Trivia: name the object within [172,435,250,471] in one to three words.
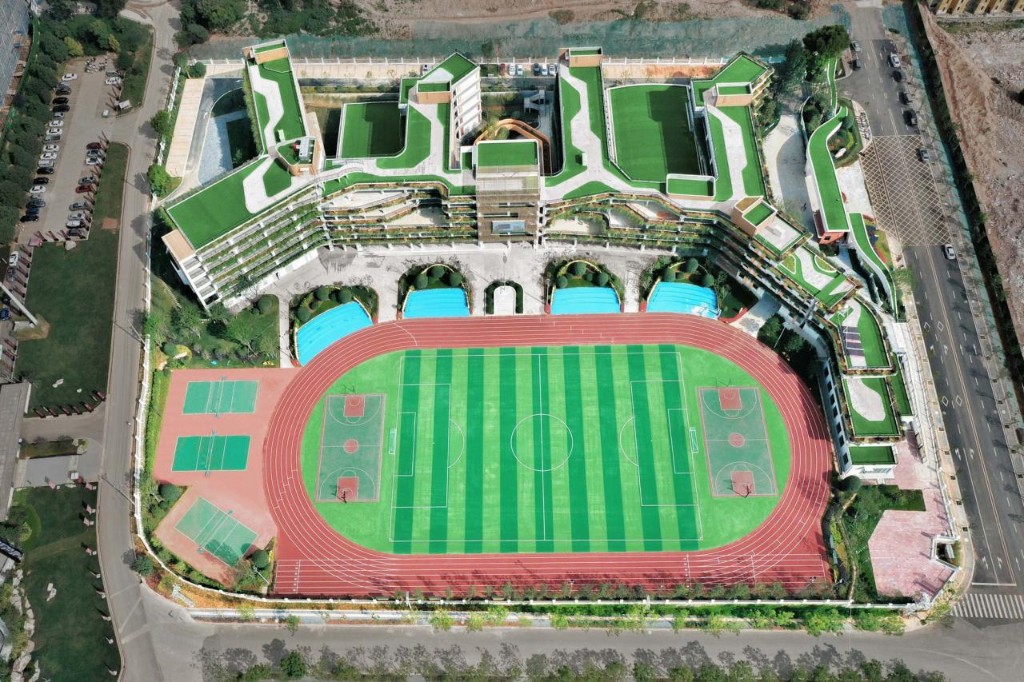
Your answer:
sports court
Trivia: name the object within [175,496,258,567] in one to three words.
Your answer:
sports court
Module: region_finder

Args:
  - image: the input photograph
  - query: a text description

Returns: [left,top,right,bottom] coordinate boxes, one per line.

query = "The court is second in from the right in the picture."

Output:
[313,393,387,503]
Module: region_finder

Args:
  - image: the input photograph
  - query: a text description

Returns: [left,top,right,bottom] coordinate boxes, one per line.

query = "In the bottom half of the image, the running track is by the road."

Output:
[263,311,834,597]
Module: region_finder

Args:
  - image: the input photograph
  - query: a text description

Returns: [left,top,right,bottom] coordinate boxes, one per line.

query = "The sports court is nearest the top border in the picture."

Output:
[182,381,259,414]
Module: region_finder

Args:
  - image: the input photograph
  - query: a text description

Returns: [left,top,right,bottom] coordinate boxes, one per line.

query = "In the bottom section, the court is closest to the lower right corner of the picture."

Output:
[697,385,779,498]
